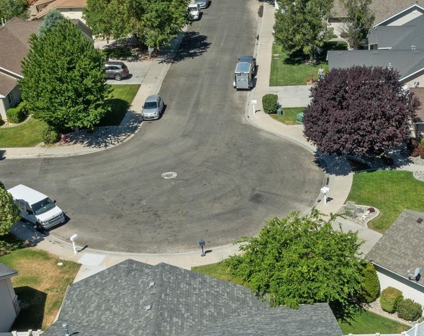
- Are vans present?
Yes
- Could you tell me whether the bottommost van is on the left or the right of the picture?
left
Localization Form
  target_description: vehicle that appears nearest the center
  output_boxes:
[141,96,164,118]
